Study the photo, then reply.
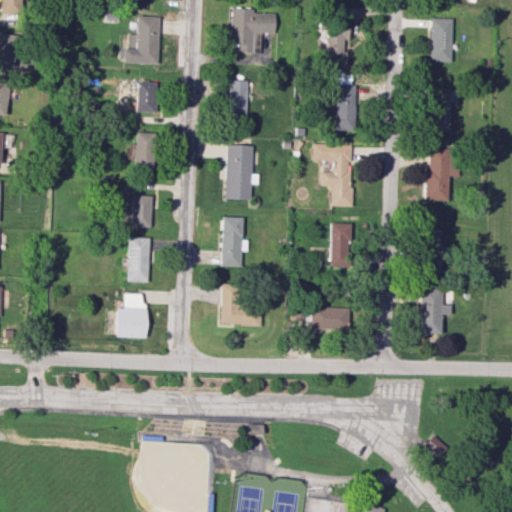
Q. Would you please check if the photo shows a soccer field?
No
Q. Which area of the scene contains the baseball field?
bottom left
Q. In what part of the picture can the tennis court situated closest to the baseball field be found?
bottom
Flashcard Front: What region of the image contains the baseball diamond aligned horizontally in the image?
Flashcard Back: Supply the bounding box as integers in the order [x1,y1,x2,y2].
[0,442,212,512]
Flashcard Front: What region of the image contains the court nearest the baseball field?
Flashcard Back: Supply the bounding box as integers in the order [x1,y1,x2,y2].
[232,474,271,512]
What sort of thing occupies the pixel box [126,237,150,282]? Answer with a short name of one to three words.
house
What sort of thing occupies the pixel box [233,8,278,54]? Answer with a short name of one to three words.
house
